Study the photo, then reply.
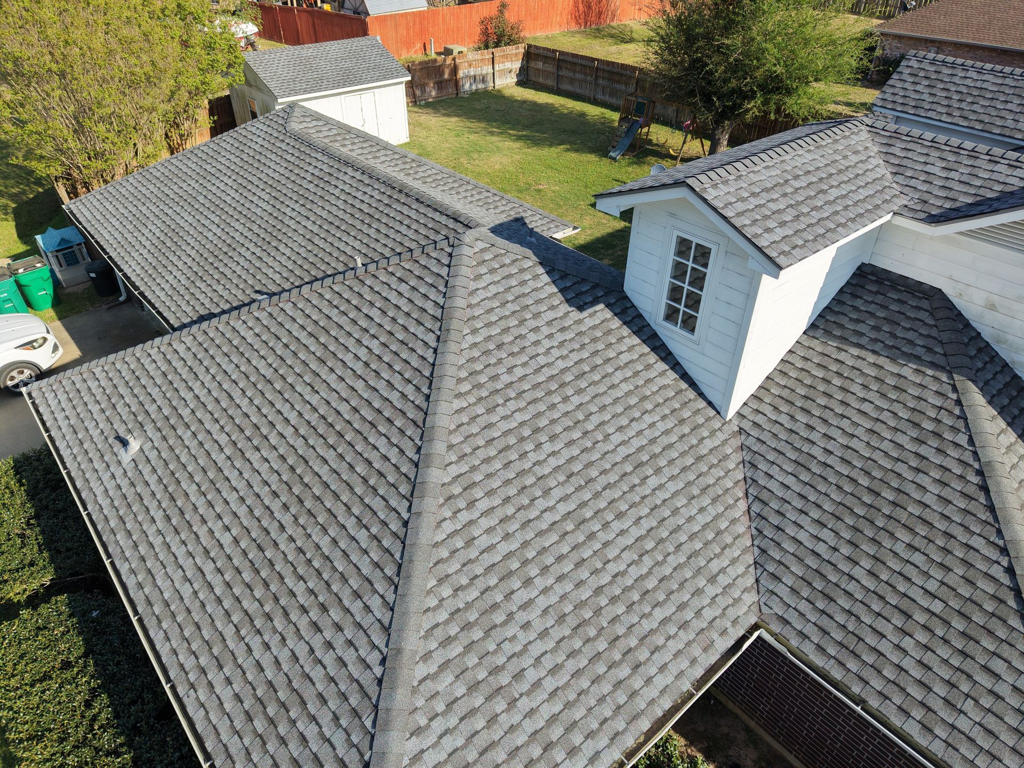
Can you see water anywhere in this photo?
No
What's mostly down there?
buildings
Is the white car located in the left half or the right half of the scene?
left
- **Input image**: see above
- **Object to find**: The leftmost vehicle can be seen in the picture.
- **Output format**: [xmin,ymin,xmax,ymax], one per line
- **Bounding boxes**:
[0,316,61,396]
